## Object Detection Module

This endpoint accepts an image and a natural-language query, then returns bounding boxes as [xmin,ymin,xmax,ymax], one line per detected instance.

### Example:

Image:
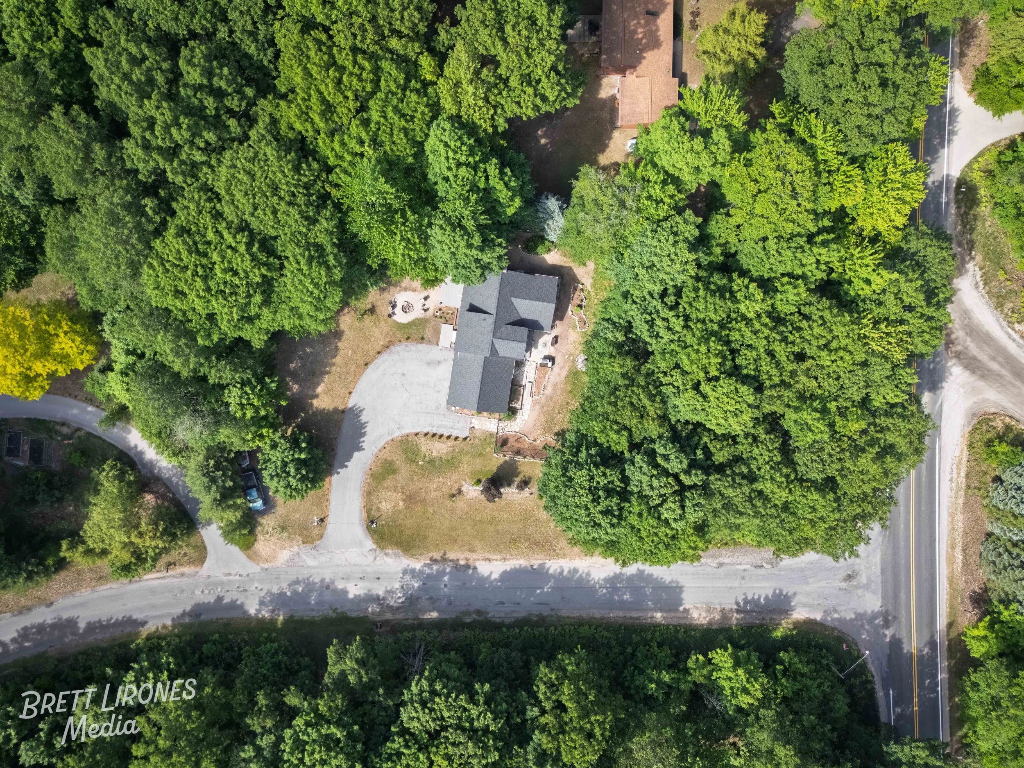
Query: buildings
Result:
[447,266,559,415]
[601,0,678,130]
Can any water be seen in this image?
No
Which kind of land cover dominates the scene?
trees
